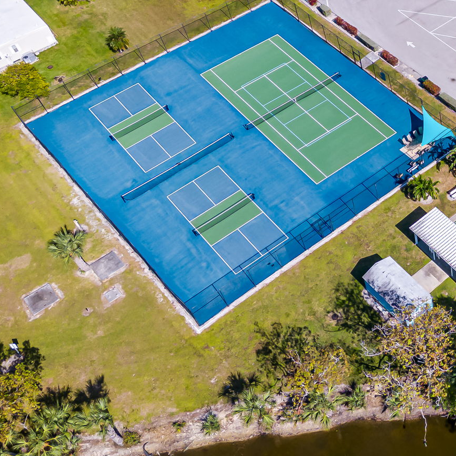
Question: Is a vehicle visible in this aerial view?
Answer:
No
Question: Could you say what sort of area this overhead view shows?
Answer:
sports ground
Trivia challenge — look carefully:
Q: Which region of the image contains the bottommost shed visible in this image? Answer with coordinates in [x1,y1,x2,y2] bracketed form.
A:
[362,257,434,327]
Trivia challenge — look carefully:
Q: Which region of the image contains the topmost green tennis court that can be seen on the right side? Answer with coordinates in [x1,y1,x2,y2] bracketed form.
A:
[201,34,396,184]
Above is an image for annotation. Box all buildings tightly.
[362,257,434,327]
[0,0,58,69]
[409,209,456,270]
